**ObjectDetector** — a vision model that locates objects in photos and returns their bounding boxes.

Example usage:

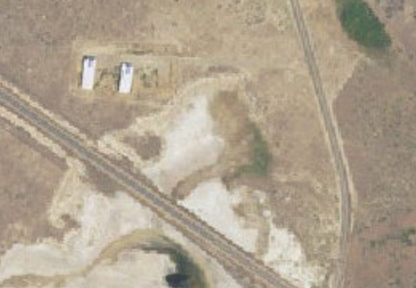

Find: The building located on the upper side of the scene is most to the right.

[118,63,132,93]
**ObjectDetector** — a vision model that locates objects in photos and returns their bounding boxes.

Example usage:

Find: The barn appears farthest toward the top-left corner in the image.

[82,56,96,90]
